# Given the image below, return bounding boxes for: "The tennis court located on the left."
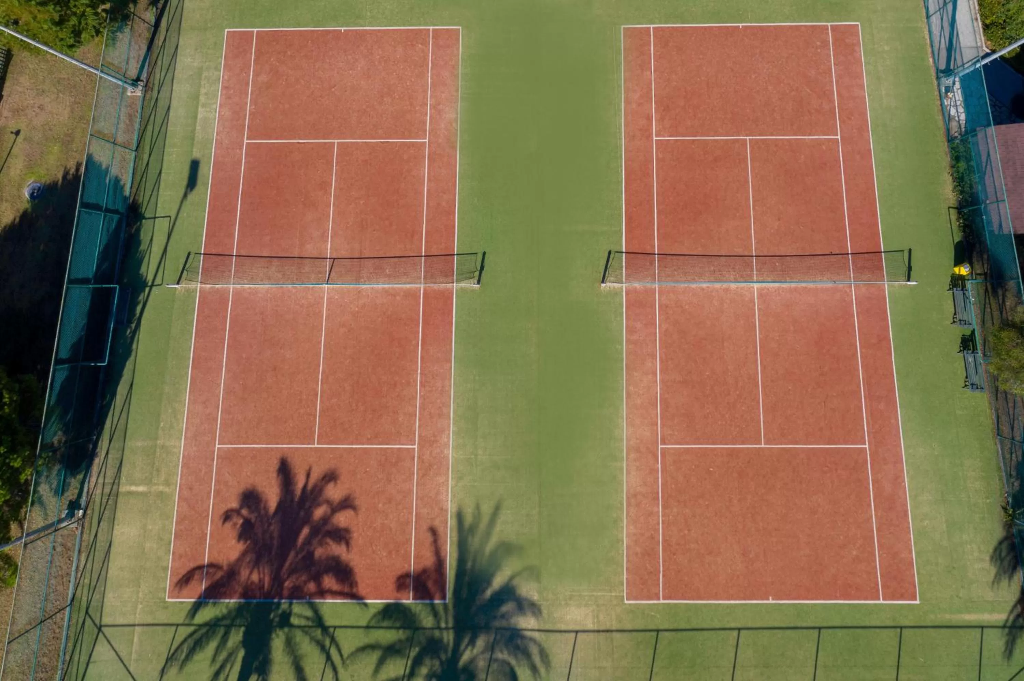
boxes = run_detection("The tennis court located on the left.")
[166,26,461,603]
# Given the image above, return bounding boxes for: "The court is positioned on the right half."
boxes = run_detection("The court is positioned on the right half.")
[621,22,920,604]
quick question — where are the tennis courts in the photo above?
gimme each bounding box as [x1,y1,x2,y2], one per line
[621,22,920,604]
[166,26,461,603]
